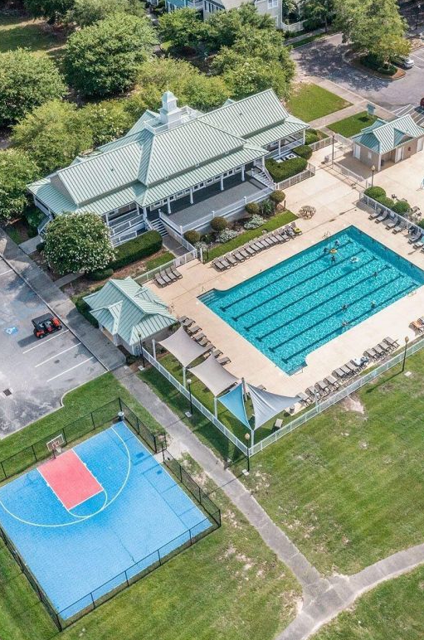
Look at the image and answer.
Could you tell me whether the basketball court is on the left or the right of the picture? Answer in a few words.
left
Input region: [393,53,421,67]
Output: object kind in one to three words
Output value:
car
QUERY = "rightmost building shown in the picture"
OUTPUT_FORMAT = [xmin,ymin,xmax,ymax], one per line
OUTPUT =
[341,110,424,171]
